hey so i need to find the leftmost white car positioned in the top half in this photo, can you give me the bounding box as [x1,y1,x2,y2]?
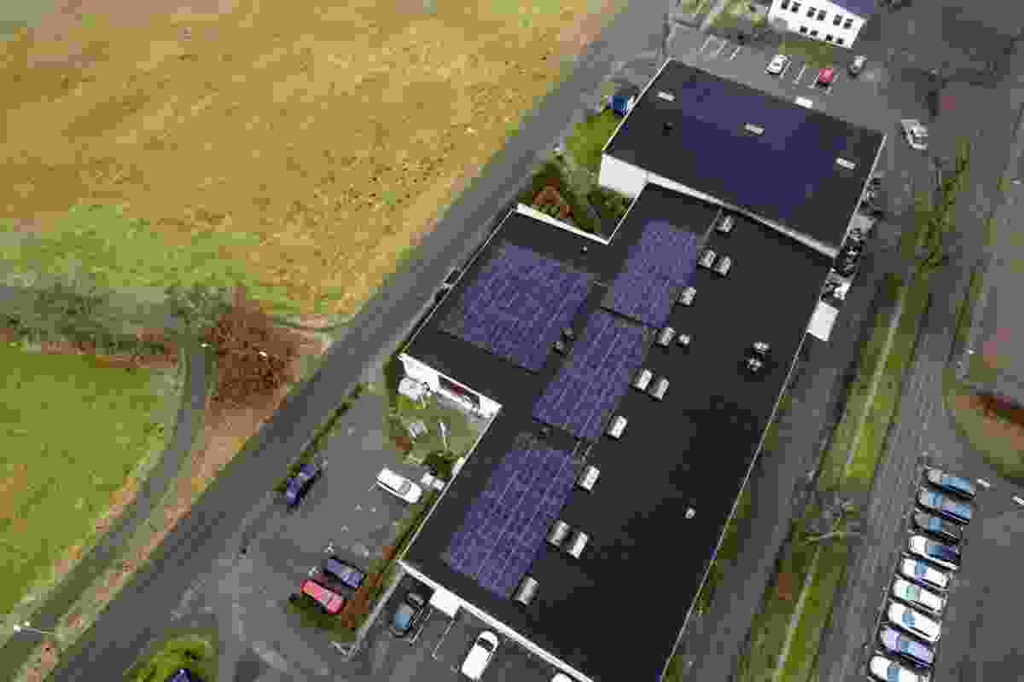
[769,53,790,74]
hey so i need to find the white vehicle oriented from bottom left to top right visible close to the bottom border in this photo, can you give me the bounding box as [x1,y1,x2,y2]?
[456,627,501,682]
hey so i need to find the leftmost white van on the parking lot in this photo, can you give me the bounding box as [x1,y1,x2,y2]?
[372,463,426,505]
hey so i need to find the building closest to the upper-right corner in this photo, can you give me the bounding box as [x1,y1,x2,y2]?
[769,0,877,46]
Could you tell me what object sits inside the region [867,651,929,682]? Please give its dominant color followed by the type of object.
white car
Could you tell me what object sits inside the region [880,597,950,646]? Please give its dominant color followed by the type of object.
white car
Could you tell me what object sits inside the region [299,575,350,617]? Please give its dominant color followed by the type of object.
red car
